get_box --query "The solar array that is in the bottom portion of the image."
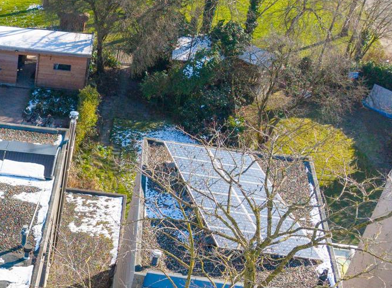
[160,142,317,258]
